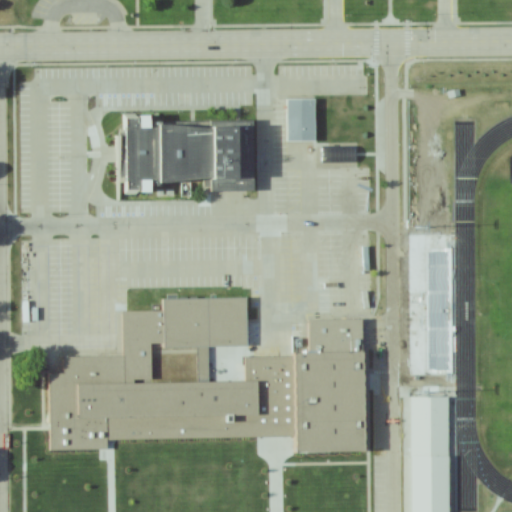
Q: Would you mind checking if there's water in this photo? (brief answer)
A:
No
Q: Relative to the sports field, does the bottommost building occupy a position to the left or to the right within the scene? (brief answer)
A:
on its left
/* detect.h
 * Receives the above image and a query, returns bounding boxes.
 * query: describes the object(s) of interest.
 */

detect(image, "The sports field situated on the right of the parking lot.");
[476,138,512,480]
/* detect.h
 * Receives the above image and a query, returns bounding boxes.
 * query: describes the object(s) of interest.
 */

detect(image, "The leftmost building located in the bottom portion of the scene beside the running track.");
[49,298,366,452]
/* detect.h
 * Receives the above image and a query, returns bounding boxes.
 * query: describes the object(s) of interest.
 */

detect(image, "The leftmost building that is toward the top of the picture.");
[114,114,256,200]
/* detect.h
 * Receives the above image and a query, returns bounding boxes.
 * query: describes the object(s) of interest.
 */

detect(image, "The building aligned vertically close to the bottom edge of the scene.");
[408,397,450,512]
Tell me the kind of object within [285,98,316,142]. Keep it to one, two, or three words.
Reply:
shed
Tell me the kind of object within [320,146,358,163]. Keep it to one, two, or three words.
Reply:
shed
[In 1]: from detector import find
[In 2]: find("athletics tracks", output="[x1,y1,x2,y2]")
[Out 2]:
[456,116,512,509]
